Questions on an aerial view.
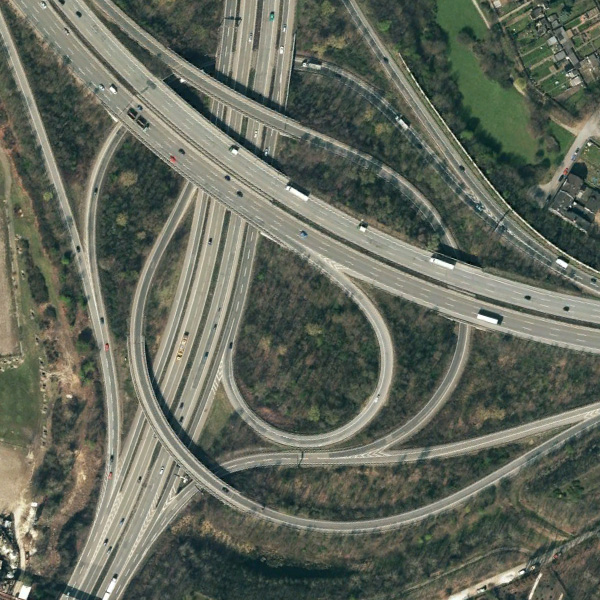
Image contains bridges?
Yes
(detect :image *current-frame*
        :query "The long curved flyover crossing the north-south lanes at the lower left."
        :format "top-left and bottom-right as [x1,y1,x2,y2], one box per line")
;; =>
[128,338,248,510]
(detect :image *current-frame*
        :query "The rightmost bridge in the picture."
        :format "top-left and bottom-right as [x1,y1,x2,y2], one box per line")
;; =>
[420,253,493,323]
